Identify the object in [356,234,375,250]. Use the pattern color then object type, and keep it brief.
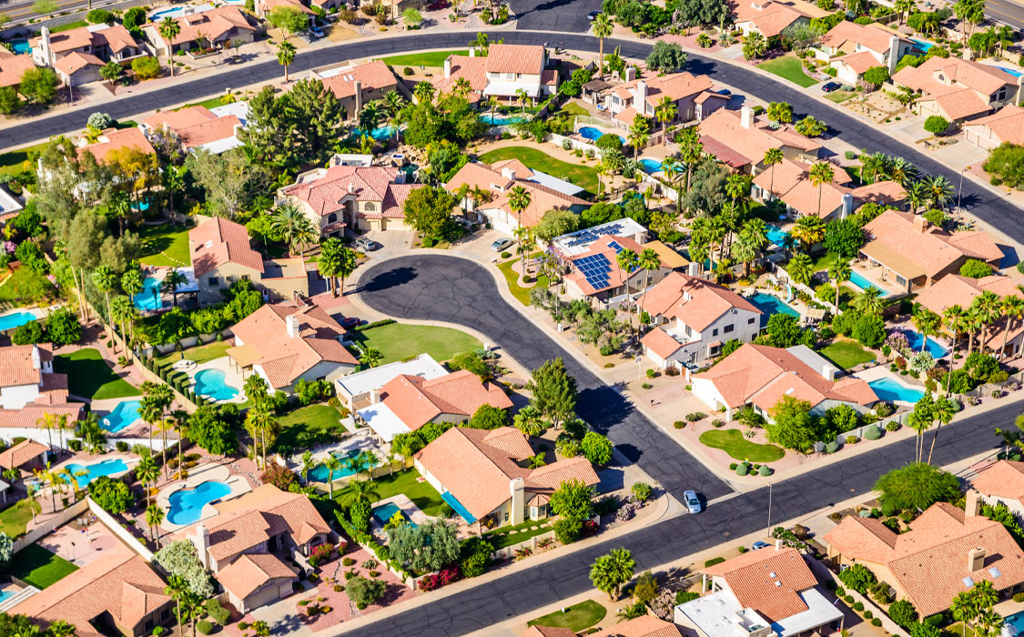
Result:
gray car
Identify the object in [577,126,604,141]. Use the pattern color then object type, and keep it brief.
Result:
blue swimming pool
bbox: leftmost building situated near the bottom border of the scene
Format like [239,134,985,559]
[0,552,170,637]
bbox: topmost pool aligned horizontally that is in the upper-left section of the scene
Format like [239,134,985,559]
[149,7,185,20]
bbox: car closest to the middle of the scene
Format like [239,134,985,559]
[491,237,511,249]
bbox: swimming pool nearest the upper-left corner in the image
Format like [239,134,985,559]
[11,39,33,56]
